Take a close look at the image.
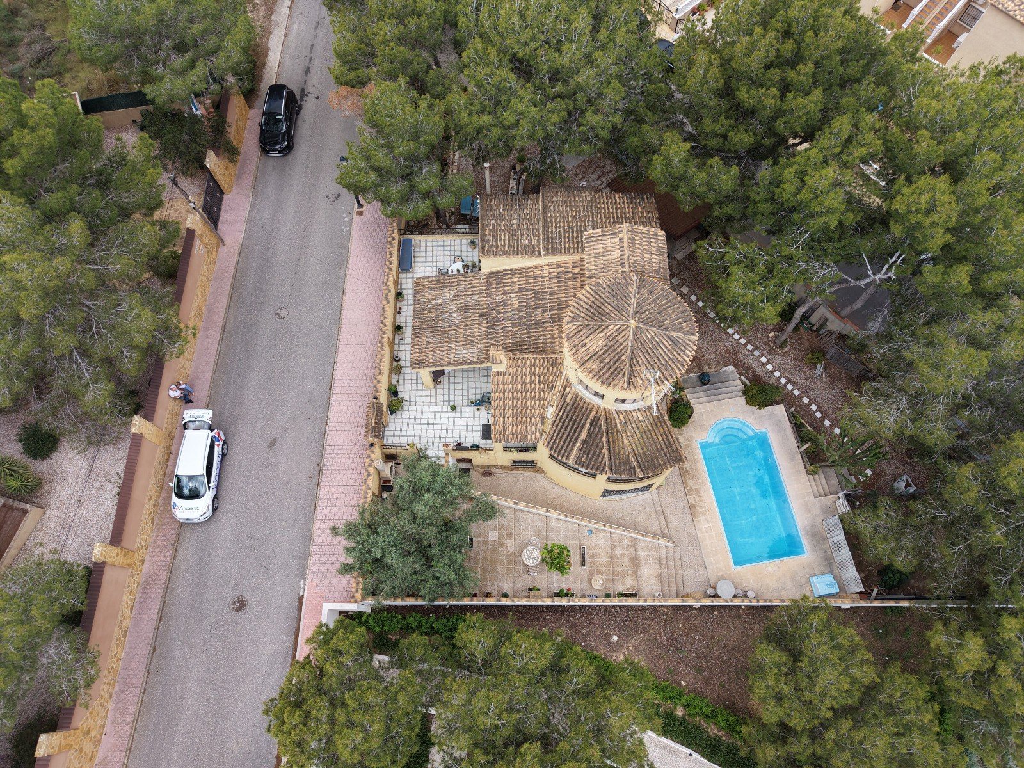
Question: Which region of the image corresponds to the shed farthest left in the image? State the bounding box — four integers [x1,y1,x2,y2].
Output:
[0,496,53,579]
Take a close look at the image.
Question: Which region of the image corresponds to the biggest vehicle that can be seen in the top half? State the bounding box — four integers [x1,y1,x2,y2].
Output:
[252,74,302,155]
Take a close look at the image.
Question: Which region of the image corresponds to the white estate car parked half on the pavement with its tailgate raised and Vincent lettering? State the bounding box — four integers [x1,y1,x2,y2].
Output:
[161,404,223,528]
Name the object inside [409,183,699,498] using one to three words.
house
